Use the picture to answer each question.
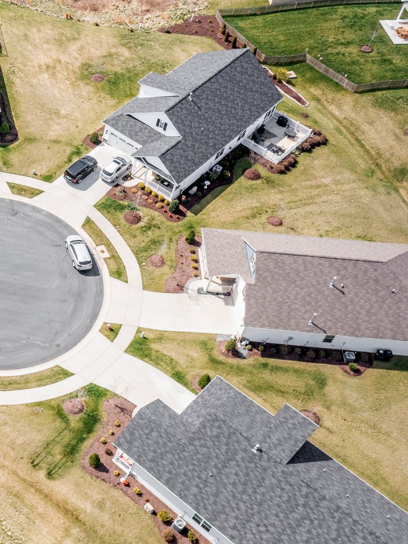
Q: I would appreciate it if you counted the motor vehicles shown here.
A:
3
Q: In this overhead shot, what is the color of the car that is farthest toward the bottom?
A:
white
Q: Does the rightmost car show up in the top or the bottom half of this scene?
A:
top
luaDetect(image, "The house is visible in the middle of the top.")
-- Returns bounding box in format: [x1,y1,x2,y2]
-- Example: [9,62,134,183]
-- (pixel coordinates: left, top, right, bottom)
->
[100,48,316,199]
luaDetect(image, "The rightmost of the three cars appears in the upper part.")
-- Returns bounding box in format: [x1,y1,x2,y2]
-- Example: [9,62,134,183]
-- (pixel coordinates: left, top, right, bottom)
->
[98,155,134,184]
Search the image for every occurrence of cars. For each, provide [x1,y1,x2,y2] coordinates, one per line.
[98,155,134,184]
[64,235,94,273]
[64,156,99,185]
